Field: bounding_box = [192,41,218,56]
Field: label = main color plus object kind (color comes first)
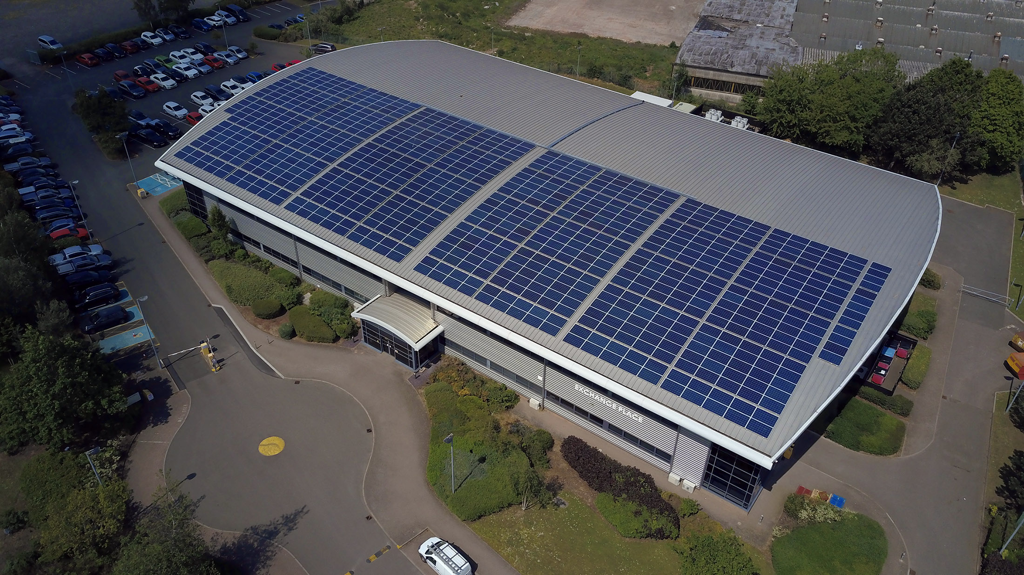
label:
black car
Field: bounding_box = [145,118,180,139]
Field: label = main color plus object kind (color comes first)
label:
black truck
